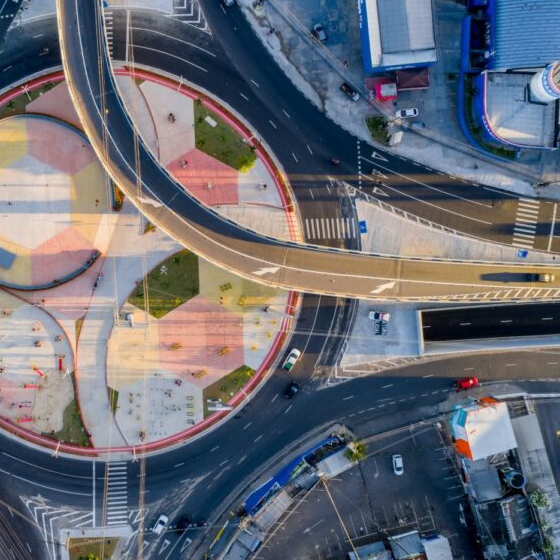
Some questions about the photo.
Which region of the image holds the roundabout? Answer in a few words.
left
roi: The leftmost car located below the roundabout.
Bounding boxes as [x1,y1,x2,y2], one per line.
[153,514,167,533]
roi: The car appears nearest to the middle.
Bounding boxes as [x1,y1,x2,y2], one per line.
[283,347,301,369]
